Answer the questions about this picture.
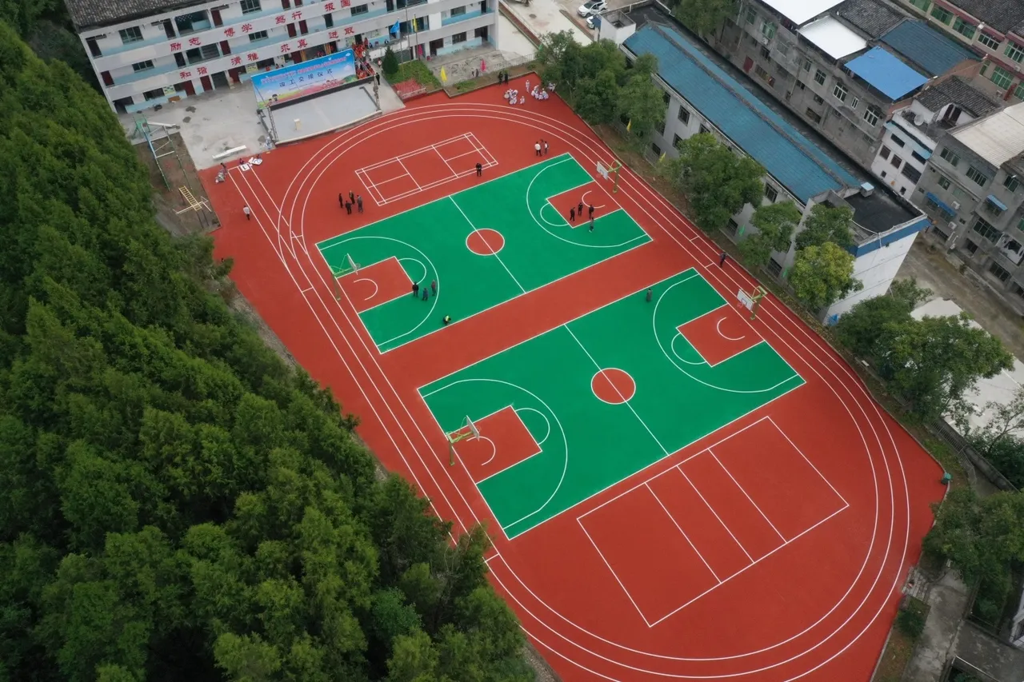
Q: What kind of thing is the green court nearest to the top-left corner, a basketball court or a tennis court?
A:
basketball court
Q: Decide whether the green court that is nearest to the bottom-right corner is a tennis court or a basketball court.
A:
basketball court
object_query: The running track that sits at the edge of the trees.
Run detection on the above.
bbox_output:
[198,73,945,682]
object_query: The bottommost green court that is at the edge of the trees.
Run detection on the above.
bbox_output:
[417,267,806,540]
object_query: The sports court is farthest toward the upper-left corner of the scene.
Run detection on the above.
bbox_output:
[355,132,498,205]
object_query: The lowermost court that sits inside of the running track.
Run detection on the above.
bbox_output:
[578,416,849,627]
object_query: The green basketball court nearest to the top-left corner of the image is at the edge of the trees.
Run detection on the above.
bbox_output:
[315,152,653,354]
